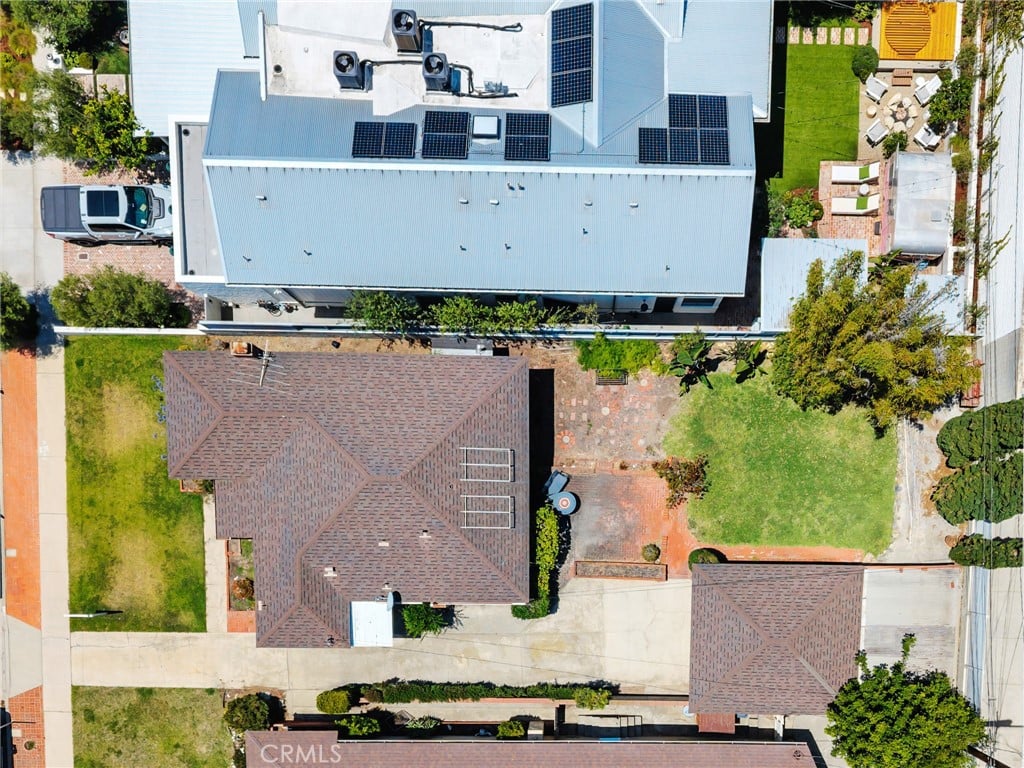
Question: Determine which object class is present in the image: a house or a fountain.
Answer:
house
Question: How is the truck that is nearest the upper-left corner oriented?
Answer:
from left to right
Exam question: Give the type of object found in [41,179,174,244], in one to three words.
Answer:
truck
